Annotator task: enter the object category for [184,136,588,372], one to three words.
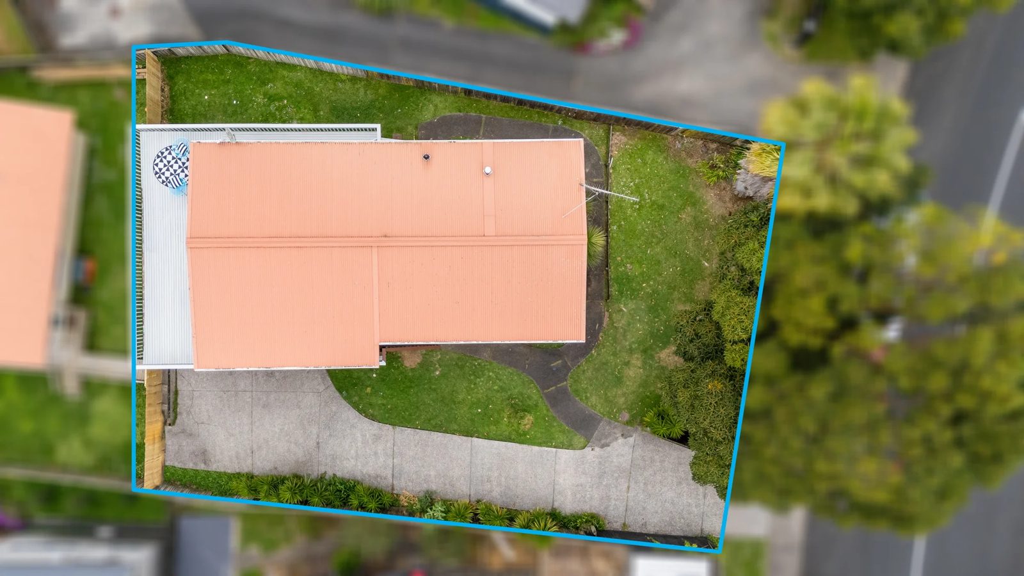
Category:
house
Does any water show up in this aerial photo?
No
